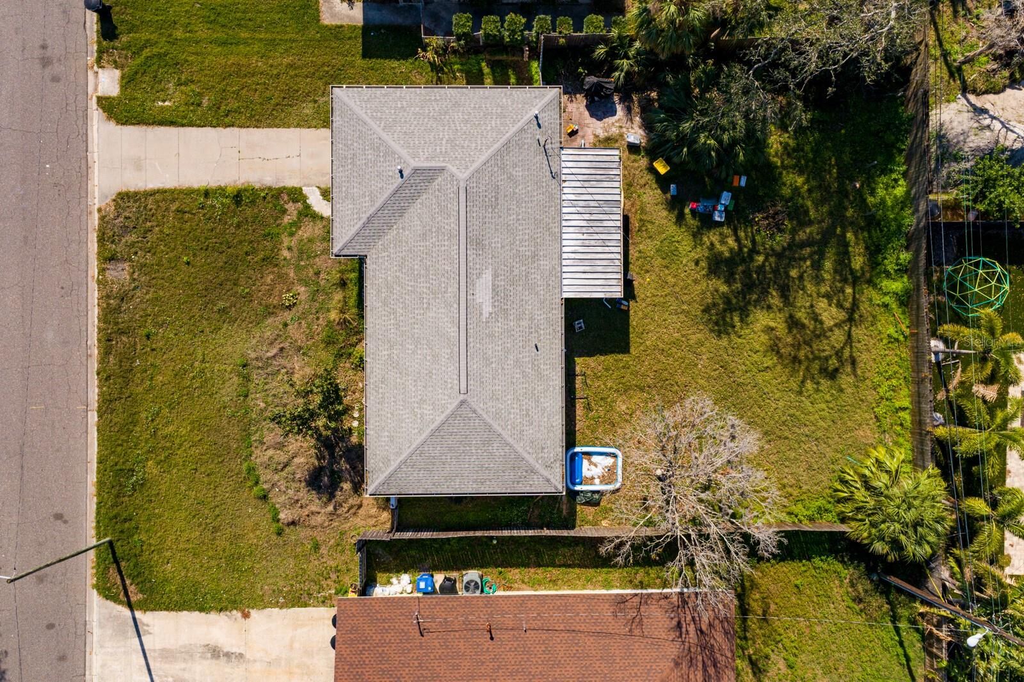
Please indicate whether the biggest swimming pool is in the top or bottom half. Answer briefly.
bottom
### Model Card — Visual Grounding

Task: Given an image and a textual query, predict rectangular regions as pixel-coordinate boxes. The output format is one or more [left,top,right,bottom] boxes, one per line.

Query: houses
[335,586,738,682]
[330,84,564,509]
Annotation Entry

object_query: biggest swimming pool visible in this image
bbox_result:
[567,447,621,490]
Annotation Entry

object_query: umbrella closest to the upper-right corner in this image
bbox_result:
[583,76,614,100]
